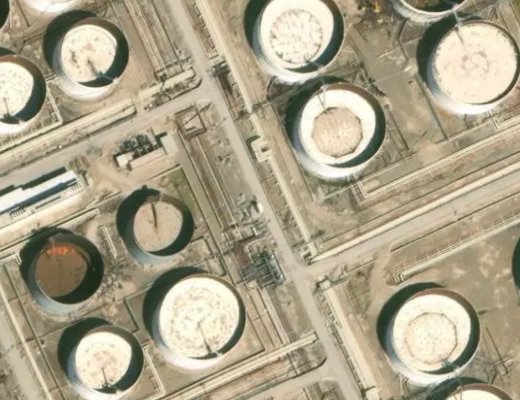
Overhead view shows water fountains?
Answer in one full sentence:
No, no water fountain is visible in the view.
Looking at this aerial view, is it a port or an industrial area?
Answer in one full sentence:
The area seen from above is an industrial area.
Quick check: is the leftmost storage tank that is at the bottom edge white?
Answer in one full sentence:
Yes, the leftmost storage tank that is at the bottom edge appears white.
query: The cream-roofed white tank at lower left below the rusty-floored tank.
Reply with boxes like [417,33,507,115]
[67,326,144,400]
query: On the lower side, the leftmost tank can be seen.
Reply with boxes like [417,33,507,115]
[27,235,105,315]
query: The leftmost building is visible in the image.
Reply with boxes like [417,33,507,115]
[0,171,76,216]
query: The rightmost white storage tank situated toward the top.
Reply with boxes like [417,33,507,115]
[429,21,520,115]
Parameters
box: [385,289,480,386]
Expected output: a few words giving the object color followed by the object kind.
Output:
white storage tank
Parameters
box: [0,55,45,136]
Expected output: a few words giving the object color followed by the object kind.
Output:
white storage tank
